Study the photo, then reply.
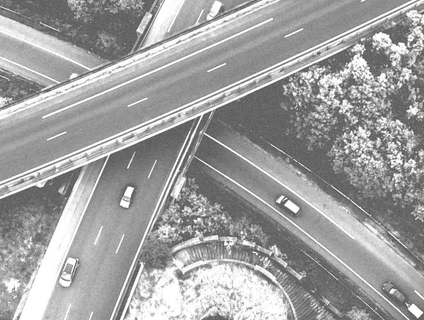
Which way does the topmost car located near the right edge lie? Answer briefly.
on a diagonal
